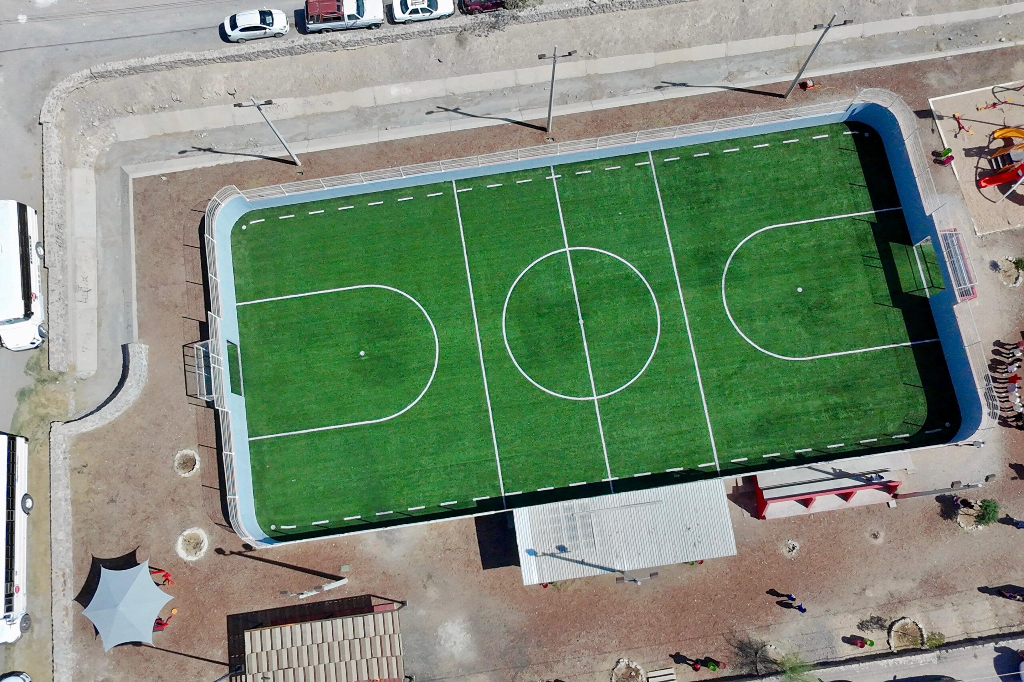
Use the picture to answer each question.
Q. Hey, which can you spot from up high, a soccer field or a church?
soccer field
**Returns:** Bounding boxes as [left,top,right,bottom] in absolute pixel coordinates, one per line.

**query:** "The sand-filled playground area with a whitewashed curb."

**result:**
[928,79,1024,235]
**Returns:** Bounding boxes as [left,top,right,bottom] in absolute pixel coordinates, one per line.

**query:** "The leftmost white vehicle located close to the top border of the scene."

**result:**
[223,4,290,44]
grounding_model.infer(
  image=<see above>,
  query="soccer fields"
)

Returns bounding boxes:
[230,121,959,543]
